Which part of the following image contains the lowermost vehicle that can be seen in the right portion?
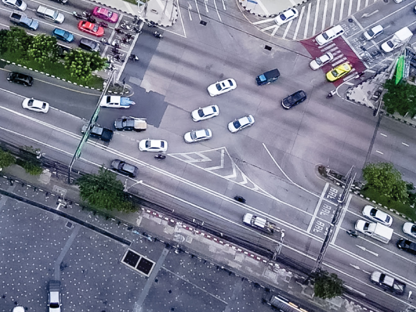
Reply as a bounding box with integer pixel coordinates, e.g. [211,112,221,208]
[370,269,413,298]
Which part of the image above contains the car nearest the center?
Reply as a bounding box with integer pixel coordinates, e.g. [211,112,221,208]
[182,128,214,146]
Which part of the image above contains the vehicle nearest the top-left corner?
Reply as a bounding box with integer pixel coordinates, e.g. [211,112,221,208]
[0,0,29,12]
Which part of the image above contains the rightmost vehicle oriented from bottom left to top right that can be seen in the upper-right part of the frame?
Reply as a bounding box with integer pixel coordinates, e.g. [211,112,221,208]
[380,25,416,53]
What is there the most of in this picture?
paved ground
